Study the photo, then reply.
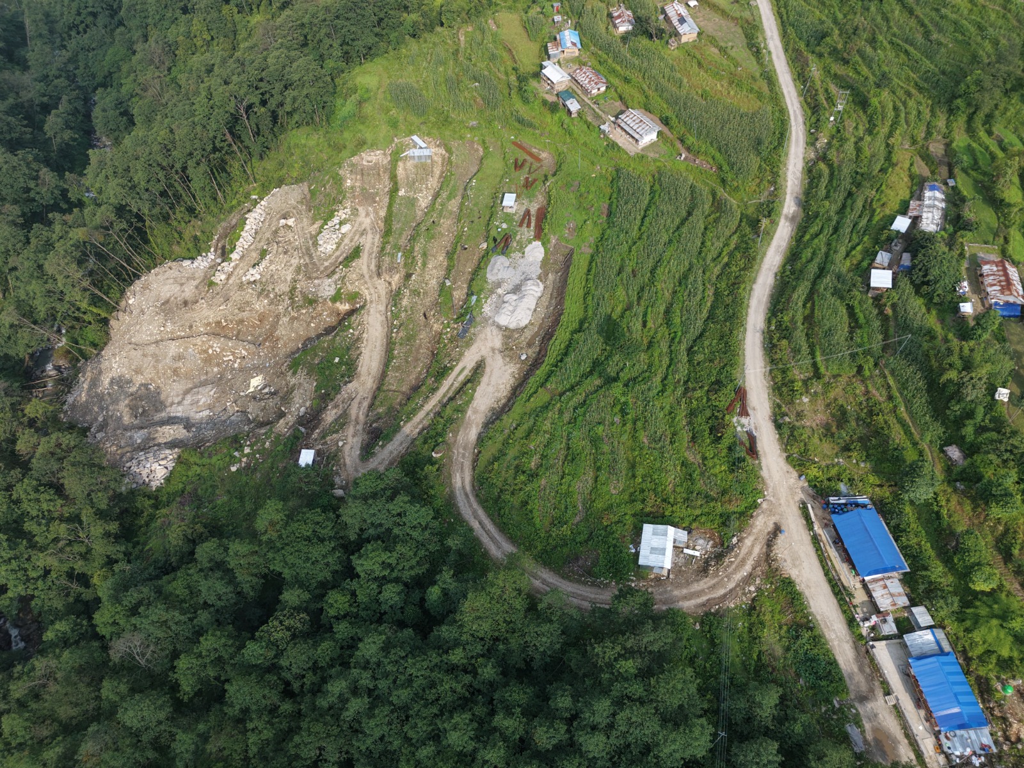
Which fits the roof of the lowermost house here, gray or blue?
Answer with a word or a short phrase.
blue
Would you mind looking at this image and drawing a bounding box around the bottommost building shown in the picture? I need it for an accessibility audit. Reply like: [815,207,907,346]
[903,656,985,737]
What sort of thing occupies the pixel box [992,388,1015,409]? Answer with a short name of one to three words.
shed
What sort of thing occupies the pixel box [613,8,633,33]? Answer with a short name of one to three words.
house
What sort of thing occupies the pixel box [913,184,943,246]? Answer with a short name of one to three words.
house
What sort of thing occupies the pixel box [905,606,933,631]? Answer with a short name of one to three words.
shed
